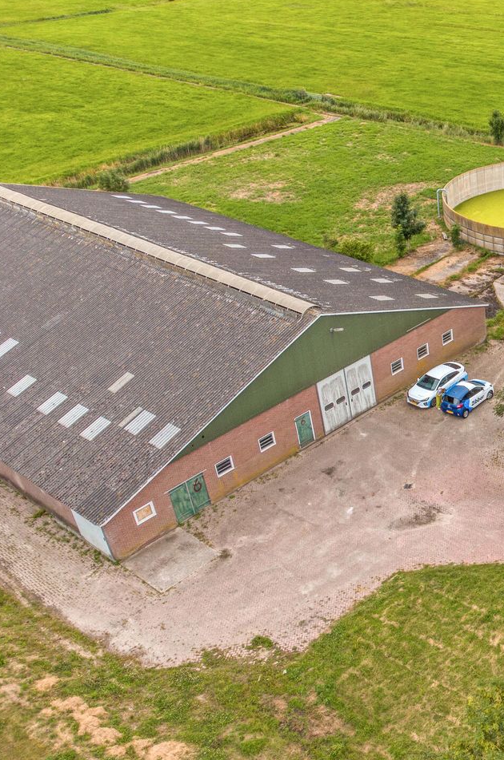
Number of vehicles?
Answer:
2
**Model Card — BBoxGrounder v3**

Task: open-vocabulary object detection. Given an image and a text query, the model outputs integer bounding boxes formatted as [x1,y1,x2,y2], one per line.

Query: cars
[439,378,495,418]
[408,355,470,404]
